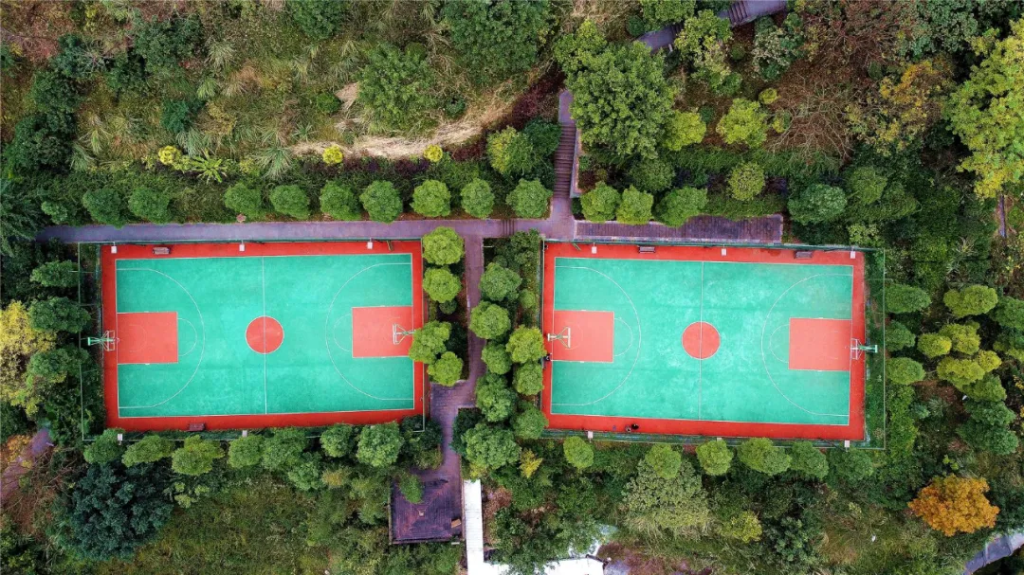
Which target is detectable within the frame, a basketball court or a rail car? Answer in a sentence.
The one in the frame is a basketball court.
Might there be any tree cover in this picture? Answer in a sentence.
Yes, tree cover shows up in the scene.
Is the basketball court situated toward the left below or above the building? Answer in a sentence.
From this view, the basketball court situated toward the left can be seen above the building.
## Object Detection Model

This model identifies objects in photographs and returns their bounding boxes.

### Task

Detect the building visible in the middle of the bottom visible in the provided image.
[393,477,451,541]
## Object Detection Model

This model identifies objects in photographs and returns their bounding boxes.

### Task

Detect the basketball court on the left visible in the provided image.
[100,237,431,431]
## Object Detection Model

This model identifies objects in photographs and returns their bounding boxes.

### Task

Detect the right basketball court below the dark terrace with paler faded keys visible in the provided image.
[539,241,867,441]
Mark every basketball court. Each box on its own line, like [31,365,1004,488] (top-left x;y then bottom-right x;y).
[539,241,867,441]
[100,237,431,431]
